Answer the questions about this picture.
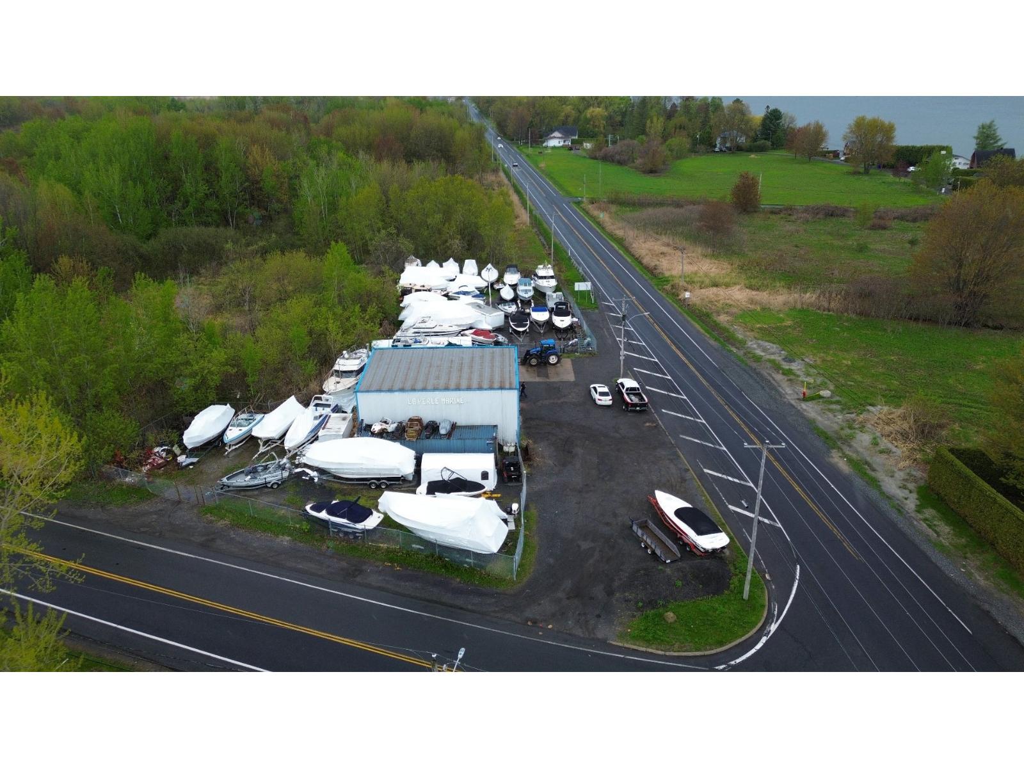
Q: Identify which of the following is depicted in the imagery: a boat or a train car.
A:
boat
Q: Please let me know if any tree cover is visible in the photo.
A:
Yes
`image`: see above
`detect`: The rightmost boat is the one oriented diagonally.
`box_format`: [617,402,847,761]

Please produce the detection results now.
[655,491,731,562]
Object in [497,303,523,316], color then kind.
white boat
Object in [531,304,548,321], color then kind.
white boat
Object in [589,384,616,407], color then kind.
white car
